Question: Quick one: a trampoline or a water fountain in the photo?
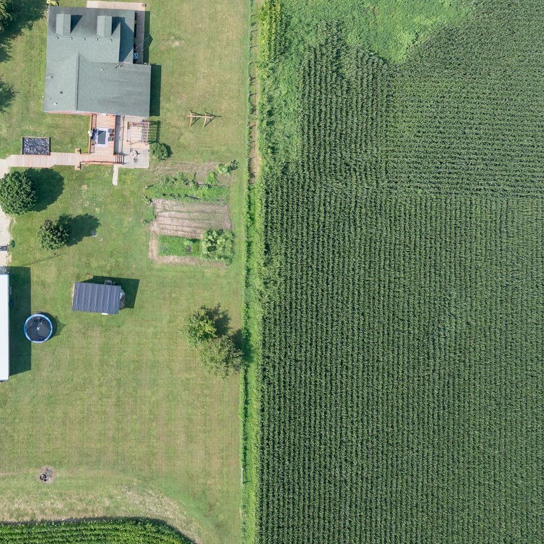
trampoline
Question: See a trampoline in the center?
No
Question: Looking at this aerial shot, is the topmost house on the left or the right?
left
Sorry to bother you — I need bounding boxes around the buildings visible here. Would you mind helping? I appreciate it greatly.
[43,6,152,119]
[0,274,13,381]
[73,282,121,315]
